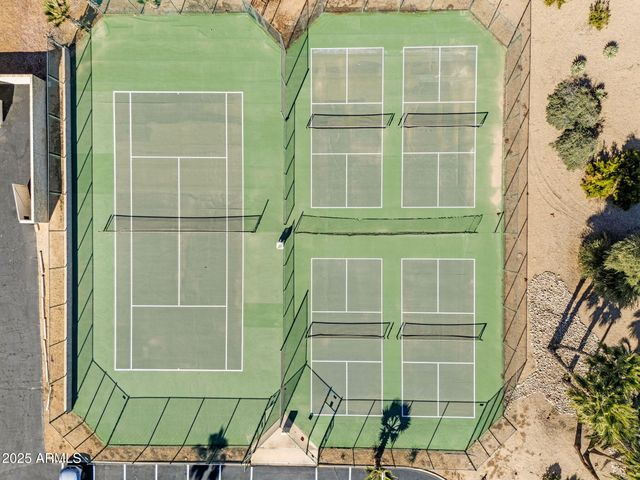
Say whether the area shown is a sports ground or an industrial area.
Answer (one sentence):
It's a sports ground.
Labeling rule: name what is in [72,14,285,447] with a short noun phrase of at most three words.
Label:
tennis court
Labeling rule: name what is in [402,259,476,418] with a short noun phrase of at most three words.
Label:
sports court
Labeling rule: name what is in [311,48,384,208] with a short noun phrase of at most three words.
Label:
sports court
